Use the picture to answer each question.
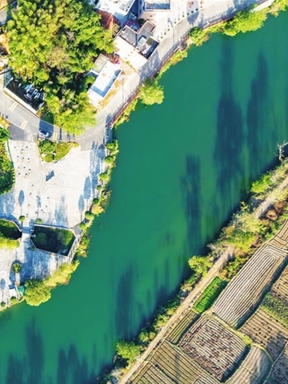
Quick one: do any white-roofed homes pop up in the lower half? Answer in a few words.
No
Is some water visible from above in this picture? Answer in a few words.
Yes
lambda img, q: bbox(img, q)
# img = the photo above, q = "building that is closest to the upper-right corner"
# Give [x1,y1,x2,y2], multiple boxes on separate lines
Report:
[139,0,172,17]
